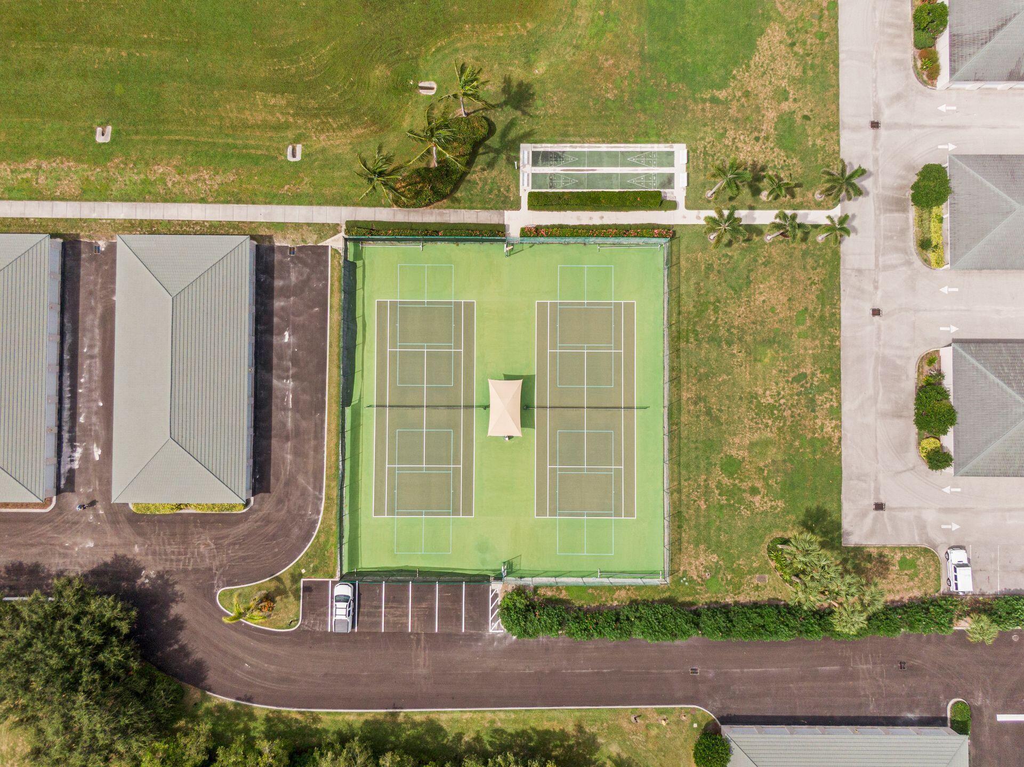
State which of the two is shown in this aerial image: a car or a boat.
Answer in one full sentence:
It is a car that can be seen here.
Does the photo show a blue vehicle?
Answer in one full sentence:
No, this view has no blue vehicle in it.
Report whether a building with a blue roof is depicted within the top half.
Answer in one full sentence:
No, there is no building with a blue roof within the top half.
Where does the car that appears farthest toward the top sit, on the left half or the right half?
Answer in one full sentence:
You can find the car that appears farthest toward the top on the right side of the picture.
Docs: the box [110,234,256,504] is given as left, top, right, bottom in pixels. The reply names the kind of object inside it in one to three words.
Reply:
building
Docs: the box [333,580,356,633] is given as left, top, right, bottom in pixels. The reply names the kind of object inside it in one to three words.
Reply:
truck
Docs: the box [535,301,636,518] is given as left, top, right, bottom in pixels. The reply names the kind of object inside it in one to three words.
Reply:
tennis court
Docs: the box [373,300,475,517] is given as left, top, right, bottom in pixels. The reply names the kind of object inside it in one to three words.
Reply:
tennis court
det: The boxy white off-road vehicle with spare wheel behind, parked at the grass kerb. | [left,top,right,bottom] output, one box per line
[946,548,974,595]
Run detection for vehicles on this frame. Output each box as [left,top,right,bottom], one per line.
[333,580,356,633]
[946,548,974,595]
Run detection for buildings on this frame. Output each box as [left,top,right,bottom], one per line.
[939,342,1024,477]
[0,233,64,503]
[110,234,256,504]
[936,0,1024,89]
[722,726,969,767]
[938,154,1024,271]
